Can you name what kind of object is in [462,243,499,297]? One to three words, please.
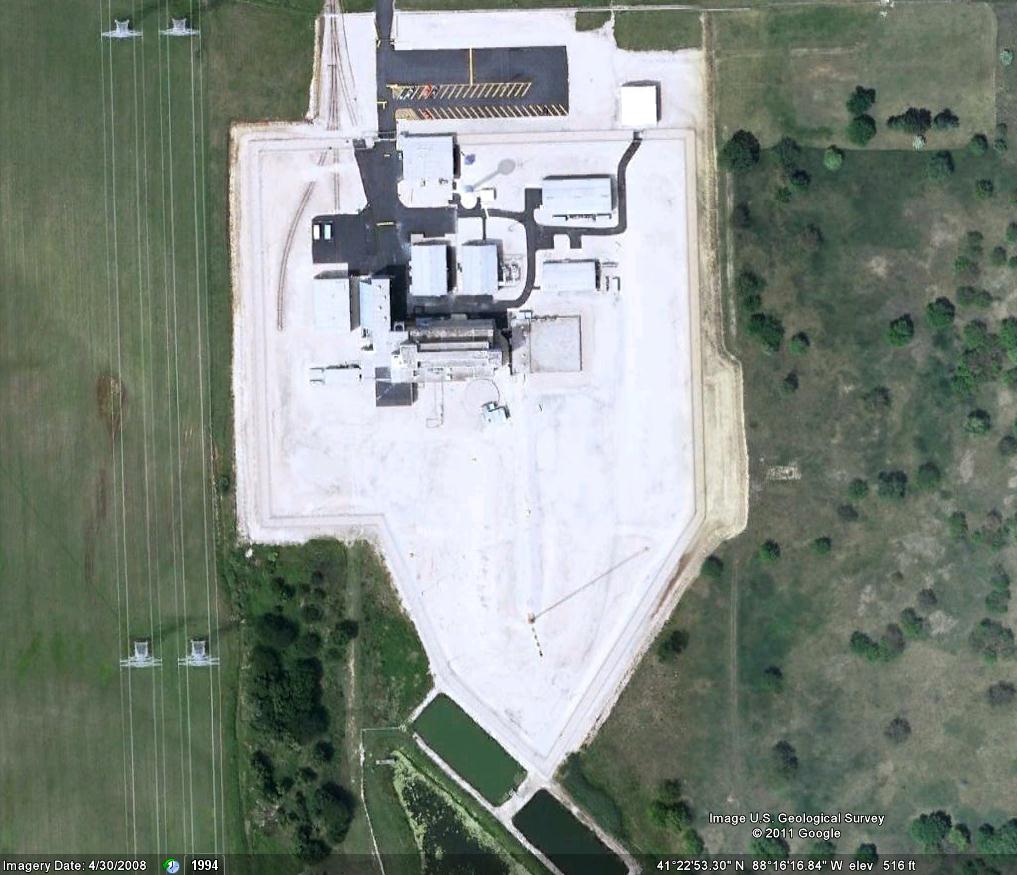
building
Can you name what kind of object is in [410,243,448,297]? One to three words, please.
building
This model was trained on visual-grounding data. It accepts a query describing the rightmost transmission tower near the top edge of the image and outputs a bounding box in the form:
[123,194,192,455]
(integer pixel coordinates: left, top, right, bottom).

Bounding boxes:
[159,10,201,38]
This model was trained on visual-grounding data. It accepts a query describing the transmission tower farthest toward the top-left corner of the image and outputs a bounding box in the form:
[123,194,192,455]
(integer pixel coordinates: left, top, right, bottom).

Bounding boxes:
[100,11,142,39]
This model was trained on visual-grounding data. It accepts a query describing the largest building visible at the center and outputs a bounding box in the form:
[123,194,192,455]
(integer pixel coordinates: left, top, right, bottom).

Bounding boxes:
[372,312,502,406]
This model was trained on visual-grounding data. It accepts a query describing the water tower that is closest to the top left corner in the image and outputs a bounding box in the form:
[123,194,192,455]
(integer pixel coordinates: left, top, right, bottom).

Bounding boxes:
[461,183,479,208]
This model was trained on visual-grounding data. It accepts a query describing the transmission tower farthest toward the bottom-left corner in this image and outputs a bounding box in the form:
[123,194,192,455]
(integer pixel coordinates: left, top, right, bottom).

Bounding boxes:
[121,634,162,667]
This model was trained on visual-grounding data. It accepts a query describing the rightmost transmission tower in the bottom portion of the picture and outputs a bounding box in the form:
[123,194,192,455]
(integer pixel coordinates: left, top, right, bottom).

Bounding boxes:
[178,633,219,666]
